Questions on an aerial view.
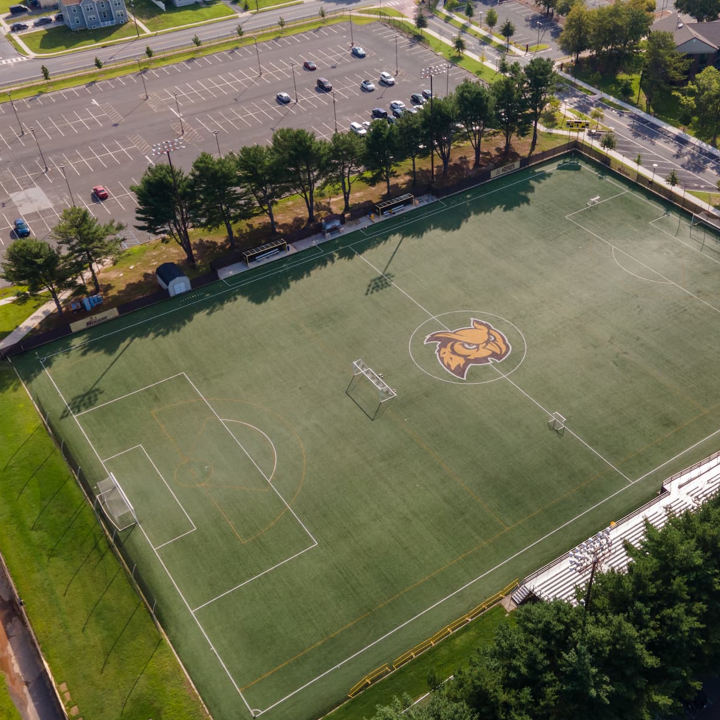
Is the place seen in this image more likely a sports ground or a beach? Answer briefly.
sports ground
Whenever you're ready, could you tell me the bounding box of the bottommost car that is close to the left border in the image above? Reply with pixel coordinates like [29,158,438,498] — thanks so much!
[13,220,30,235]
